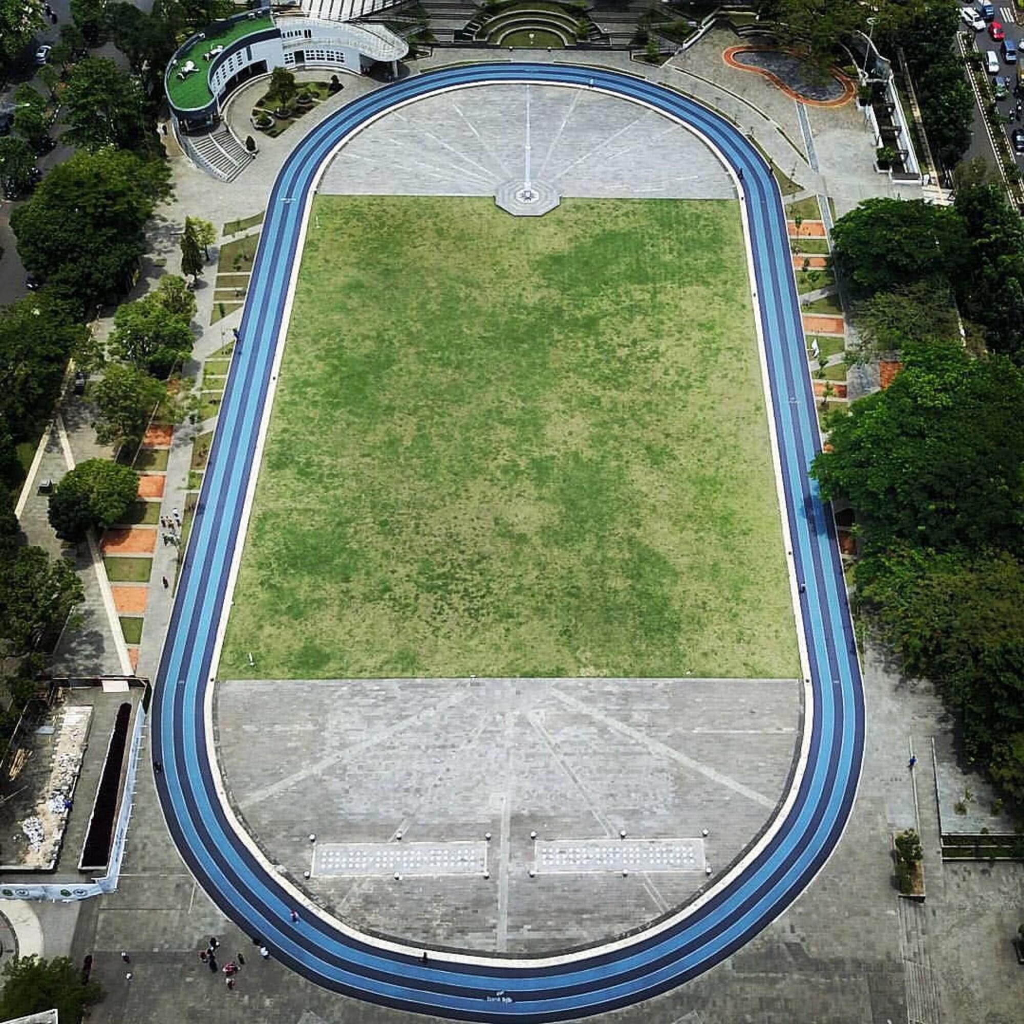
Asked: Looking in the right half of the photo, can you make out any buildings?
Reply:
No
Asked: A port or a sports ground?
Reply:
sports ground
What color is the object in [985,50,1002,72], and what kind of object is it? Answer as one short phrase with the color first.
white vehicle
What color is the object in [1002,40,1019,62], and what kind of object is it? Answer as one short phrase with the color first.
blue vehicle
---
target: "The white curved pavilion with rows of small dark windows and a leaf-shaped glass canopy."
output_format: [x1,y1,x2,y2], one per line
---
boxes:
[275,18,409,79]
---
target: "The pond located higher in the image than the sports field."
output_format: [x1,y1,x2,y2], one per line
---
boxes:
[723,44,855,106]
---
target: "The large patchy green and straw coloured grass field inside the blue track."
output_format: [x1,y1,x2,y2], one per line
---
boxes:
[214,194,800,681]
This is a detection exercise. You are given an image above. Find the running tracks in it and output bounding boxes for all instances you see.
[147,61,867,1024]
